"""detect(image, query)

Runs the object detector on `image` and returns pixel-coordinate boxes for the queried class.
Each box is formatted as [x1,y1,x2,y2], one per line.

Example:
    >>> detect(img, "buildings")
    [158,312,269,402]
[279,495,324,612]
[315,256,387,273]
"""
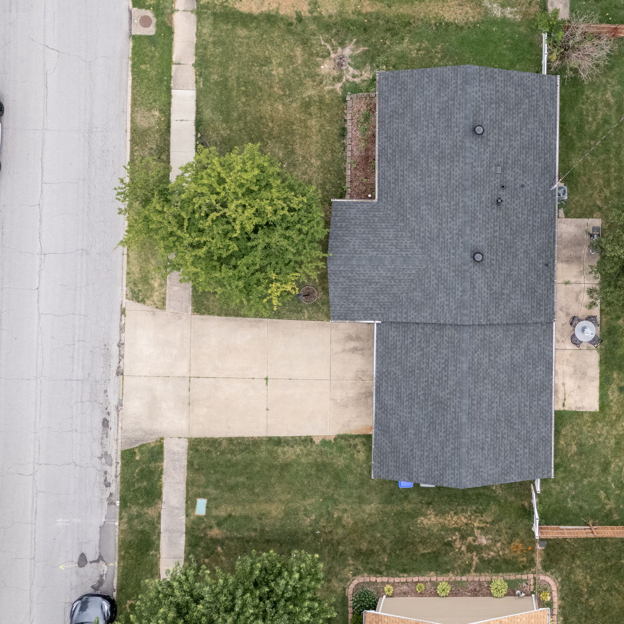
[328,64,561,488]
[362,596,552,624]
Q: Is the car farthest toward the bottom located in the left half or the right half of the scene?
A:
left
